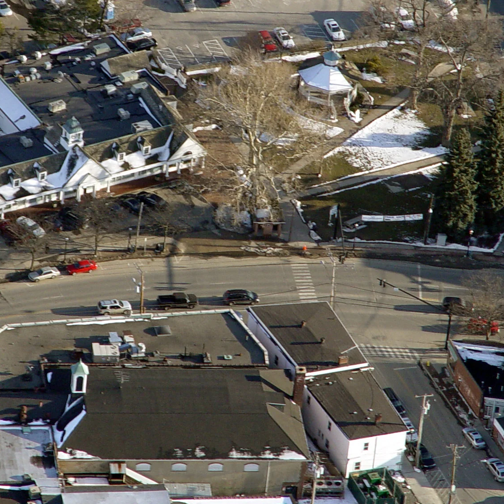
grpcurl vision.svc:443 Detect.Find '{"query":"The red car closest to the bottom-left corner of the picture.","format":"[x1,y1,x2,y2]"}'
[64,260,100,277]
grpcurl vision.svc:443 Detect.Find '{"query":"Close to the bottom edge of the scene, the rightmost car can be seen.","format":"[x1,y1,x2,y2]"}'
[486,458,504,483]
